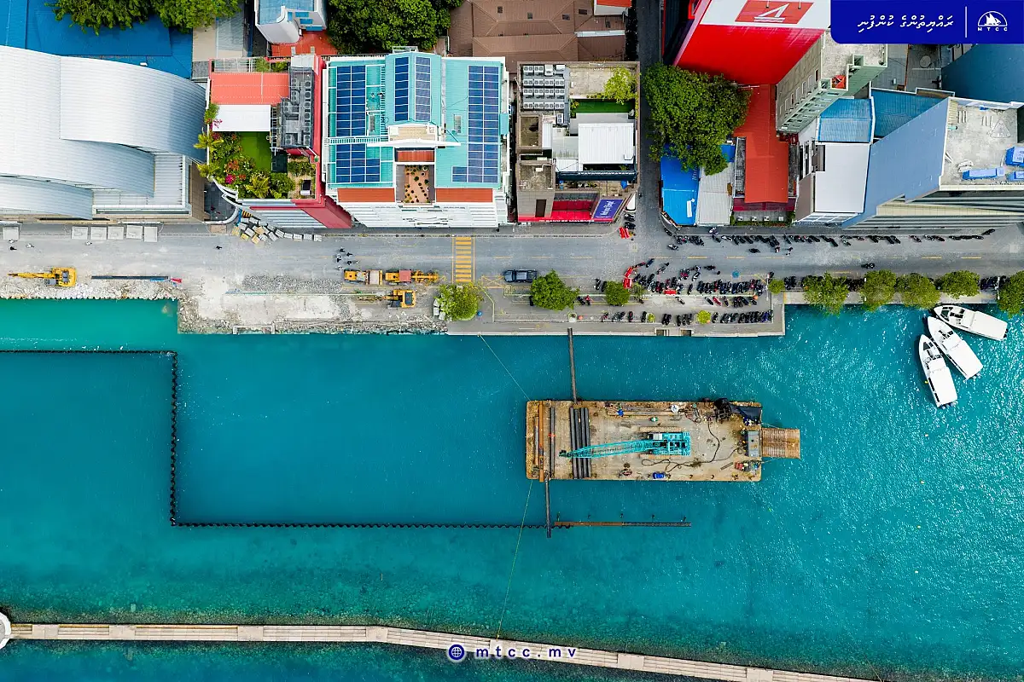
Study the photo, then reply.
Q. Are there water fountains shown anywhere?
No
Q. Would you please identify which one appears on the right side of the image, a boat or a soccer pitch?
boat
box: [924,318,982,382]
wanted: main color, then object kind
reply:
white boat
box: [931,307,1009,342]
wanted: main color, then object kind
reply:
white boat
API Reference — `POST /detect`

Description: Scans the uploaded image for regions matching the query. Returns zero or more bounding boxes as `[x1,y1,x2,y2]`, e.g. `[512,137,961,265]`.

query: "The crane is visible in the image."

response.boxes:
[554,431,696,459]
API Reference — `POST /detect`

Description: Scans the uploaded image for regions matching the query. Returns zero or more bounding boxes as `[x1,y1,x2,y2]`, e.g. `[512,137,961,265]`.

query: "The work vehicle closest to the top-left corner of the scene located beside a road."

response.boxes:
[12,267,73,286]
